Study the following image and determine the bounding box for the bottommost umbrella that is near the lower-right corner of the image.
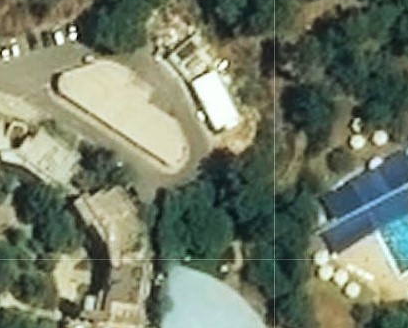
[345,283,360,298]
